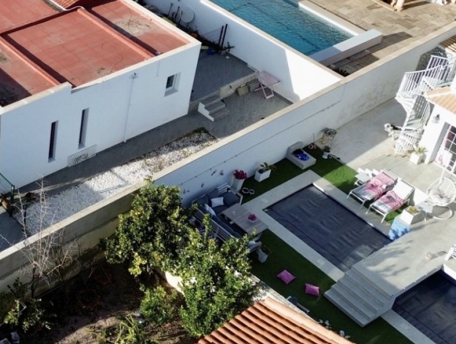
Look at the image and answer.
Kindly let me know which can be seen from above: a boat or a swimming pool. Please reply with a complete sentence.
This aerial view contains a swimming pool.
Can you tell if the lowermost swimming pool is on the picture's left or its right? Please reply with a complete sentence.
You can find the lowermost swimming pool on the right side of the picture.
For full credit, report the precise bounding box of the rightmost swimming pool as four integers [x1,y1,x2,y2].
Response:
[359,264,456,344]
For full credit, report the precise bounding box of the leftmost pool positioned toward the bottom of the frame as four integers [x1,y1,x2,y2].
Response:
[227,172,393,290]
